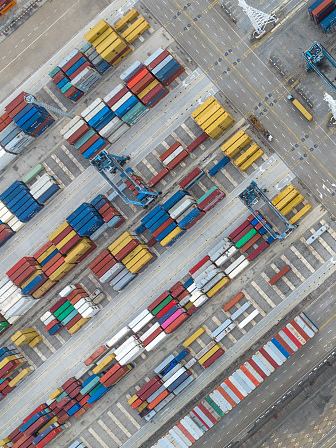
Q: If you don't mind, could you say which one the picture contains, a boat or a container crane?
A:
container crane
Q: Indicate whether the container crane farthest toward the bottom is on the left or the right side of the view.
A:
right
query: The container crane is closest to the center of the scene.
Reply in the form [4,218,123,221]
[95,149,171,210]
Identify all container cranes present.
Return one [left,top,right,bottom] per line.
[300,37,336,94]
[239,181,302,241]
[95,149,171,210]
